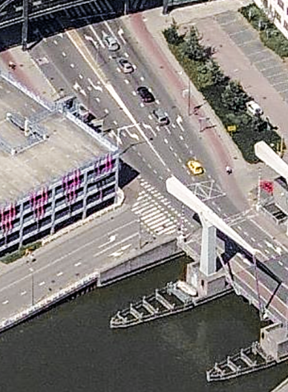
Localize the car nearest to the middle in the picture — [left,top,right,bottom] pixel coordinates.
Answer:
[188,160,203,175]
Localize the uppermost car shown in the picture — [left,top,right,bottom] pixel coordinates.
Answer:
[103,36,118,51]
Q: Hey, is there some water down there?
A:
Yes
